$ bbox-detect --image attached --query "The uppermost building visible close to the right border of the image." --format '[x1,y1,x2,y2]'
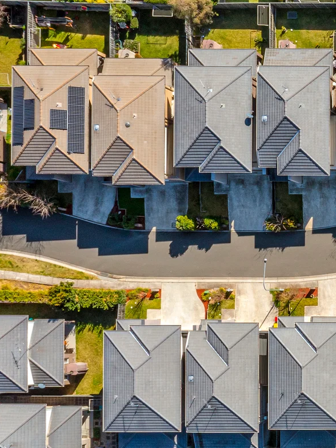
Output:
[256,47,336,183]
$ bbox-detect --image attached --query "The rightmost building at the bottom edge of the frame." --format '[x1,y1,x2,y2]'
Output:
[267,312,336,448]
